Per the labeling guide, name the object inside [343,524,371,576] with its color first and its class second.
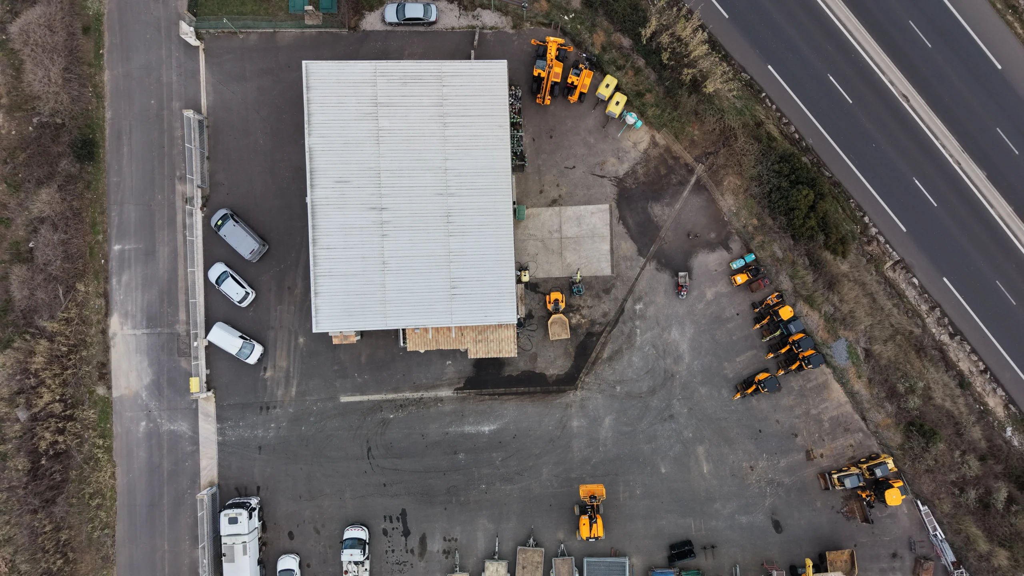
white truck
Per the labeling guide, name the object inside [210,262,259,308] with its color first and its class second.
white car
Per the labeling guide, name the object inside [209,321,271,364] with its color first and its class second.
white van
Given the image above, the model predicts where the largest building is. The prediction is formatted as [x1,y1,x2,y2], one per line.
[302,60,518,359]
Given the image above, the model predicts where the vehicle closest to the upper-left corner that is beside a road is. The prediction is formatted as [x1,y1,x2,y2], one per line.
[213,211,266,265]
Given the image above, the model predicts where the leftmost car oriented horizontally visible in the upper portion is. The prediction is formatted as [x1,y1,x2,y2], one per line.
[383,2,441,30]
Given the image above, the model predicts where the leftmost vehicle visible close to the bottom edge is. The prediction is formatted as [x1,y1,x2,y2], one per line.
[221,490,268,576]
